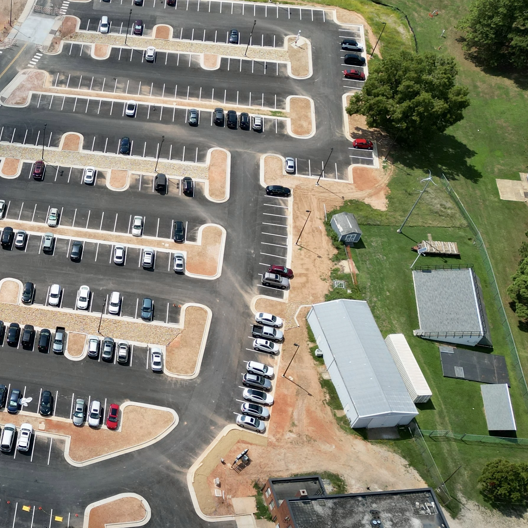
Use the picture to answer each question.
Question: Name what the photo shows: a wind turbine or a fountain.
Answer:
wind turbine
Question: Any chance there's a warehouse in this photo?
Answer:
Yes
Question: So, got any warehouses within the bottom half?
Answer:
Yes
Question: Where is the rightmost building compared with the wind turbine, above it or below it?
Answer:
below it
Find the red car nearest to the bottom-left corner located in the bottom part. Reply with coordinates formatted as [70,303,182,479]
[106,404,120,430]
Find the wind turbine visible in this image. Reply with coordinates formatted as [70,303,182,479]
[395,178,436,234]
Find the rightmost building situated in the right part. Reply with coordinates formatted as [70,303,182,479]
[411,265,492,347]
